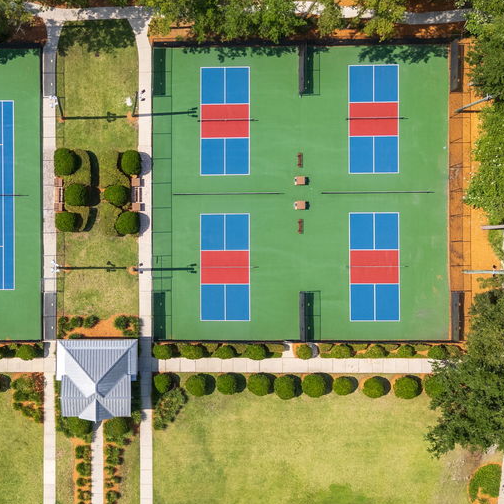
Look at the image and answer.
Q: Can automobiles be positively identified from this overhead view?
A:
No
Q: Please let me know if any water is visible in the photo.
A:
No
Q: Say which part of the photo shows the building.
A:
bottom left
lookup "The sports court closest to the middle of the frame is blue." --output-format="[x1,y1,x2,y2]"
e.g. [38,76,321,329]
[201,214,250,321]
